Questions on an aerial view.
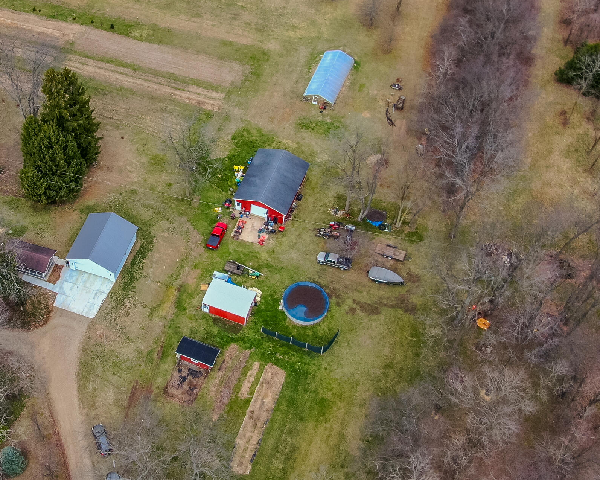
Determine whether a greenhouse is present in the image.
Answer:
Yes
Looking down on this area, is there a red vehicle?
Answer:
Yes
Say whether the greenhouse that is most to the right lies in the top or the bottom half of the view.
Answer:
top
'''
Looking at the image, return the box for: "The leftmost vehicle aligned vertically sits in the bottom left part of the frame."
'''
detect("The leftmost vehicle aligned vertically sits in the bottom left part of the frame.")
[92,423,110,456]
